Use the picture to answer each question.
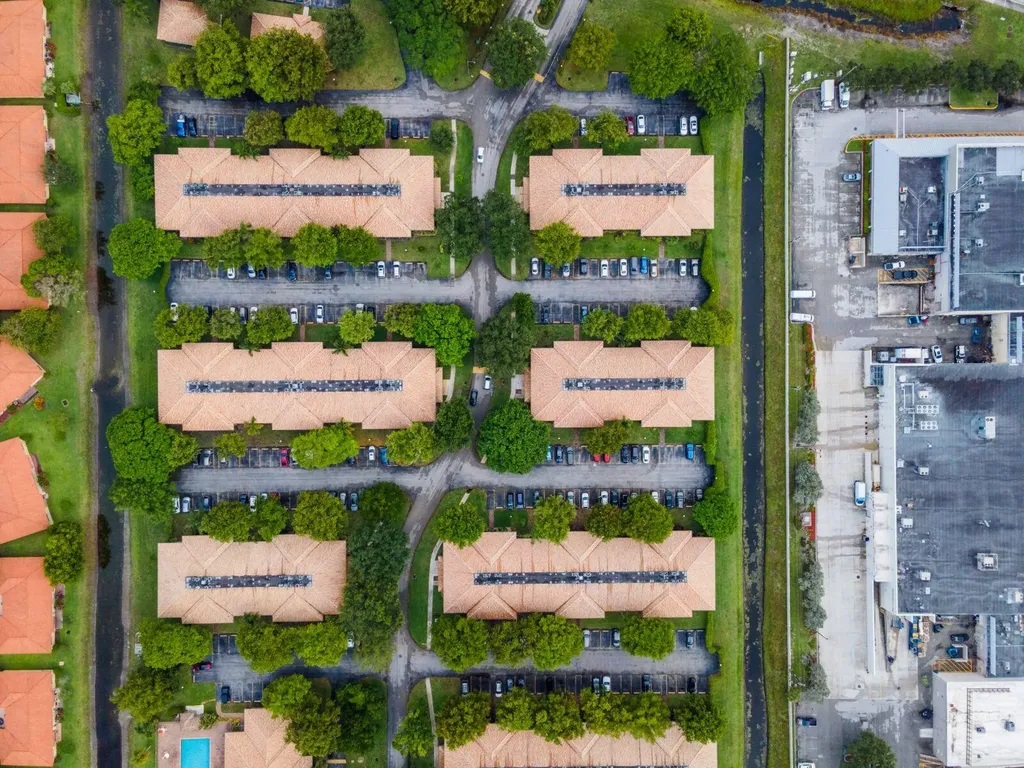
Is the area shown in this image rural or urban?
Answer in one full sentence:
From above, the setting appears urban.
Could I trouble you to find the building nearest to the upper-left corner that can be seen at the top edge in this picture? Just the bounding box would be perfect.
[0,1,50,100]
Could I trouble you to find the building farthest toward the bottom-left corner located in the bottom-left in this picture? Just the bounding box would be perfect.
[0,668,59,767]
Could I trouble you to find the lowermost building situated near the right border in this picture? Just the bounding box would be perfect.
[933,672,1024,768]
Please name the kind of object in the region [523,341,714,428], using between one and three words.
building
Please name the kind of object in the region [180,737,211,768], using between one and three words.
swimming pool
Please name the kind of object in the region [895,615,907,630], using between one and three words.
vehicle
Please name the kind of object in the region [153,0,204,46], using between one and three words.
house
